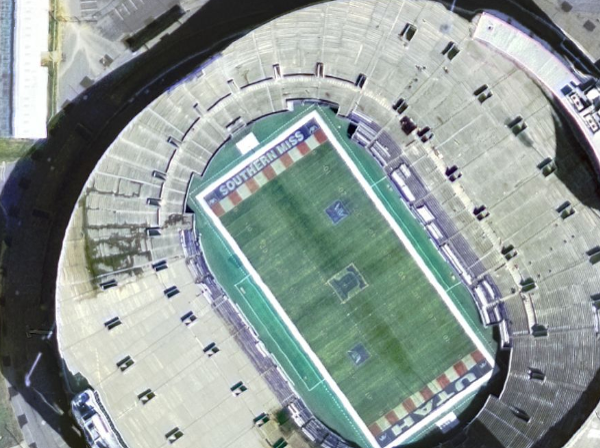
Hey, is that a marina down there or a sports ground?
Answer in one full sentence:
The picture captures a sports ground.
